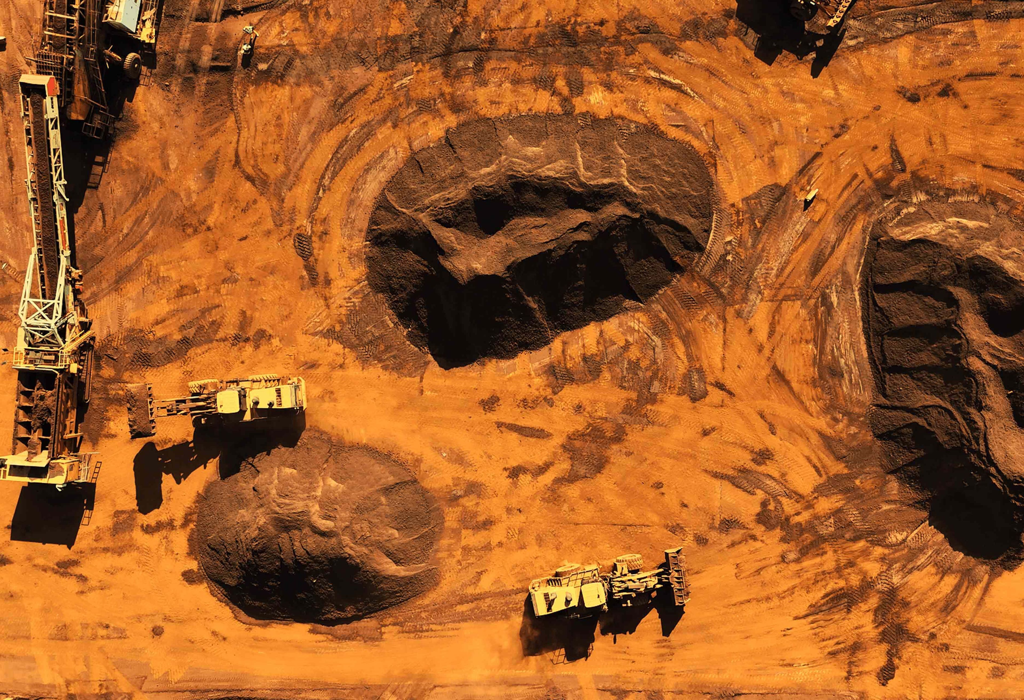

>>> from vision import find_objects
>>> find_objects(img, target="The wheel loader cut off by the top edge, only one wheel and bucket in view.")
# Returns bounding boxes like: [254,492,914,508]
[784,0,864,44]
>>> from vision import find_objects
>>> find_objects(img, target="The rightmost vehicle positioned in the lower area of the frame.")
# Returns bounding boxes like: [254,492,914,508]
[523,540,693,617]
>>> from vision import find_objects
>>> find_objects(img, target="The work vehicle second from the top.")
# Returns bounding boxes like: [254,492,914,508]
[117,372,310,438]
